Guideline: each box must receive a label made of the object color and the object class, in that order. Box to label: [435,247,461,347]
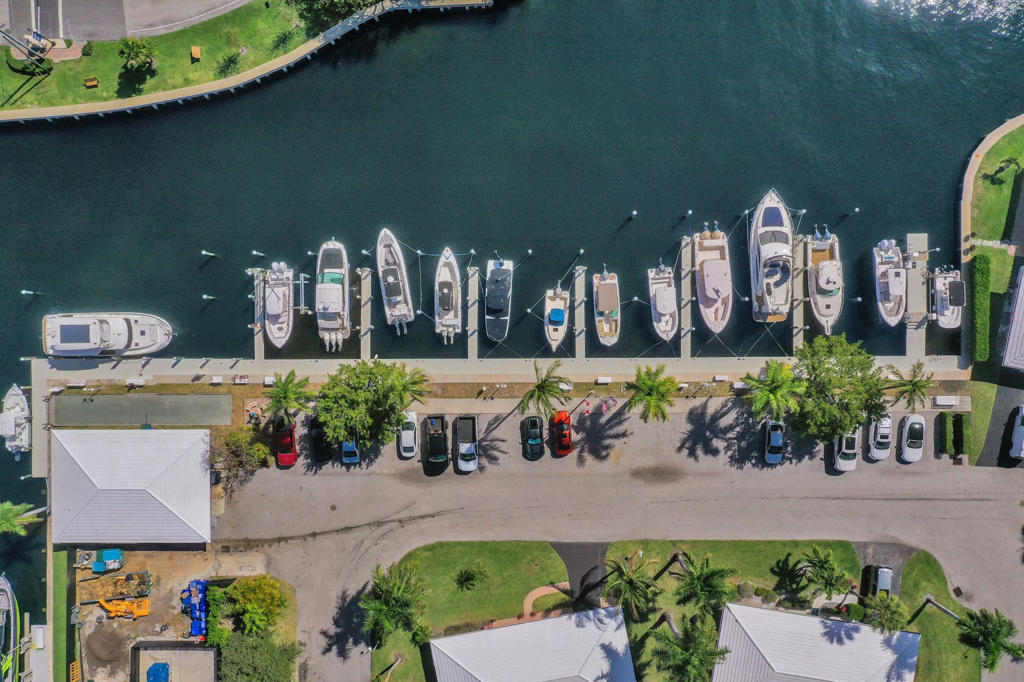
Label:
white boat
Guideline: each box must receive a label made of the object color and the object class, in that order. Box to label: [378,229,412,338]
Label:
white boat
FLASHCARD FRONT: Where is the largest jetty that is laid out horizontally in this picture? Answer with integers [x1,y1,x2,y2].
[47,358,971,380]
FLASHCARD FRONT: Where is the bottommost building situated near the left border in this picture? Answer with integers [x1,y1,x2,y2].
[50,428,213,545]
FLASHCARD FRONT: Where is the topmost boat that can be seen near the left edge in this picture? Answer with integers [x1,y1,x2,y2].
[45,314,179,357]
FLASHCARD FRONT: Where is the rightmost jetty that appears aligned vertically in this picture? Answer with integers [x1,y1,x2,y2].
[905,234,928,358]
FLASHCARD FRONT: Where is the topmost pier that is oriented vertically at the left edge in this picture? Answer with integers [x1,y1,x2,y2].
[31,359,48,476]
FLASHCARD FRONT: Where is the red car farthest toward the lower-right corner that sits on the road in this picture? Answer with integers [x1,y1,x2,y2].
[551,409,574,456]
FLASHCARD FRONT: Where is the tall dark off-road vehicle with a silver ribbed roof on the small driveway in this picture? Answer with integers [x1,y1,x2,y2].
[866,556,893,598]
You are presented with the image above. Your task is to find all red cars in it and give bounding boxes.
[551,409,574,456]
[273,421,298,468]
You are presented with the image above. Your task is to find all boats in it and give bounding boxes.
[593,261,621,347]
[485,250,512,341]
[316,235,351,351]
[0,574,21,682]
[747,188,794,323]
[45,314,179,357]
[870,236,906,327]
[931,260,966,329]
[0,385,31,466]
[648,253,677,342]
[378,229,412,338]
[804,222,844,338]
[265,258,294,348]
[544,276,569,352]
[435,247,461,347]
[694,216,732,335]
